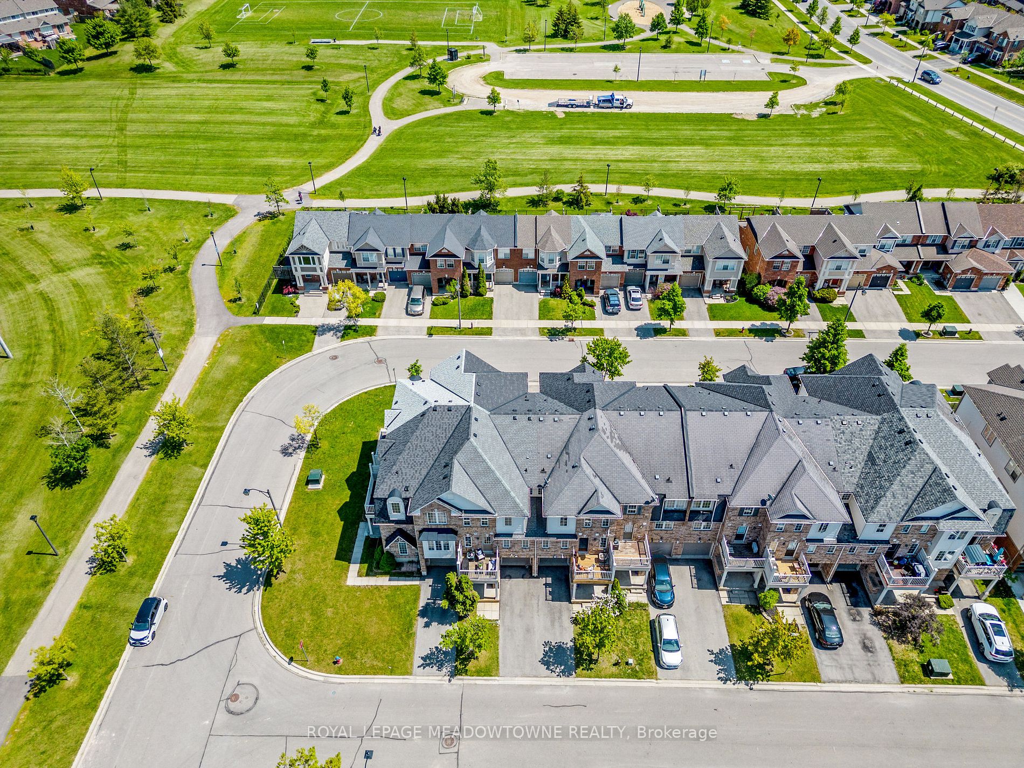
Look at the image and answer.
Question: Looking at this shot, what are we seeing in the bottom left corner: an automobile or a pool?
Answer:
automobile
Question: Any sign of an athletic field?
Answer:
Yes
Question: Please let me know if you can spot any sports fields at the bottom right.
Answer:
No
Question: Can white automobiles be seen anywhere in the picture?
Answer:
Yes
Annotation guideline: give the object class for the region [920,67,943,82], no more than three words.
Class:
car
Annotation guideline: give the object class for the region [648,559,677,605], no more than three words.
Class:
car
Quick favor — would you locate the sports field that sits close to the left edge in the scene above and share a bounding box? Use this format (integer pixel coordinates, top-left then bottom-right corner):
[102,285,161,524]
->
[0,75,377,195]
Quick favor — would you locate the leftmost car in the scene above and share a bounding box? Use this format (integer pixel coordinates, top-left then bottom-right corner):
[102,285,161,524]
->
[131,594,171,642]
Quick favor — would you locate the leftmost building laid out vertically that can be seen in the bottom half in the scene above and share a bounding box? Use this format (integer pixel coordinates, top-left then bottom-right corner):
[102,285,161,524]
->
[367,349,472,579]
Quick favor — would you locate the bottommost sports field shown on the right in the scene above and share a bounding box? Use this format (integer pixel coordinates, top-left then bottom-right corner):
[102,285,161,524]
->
[316,79,1024,199]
